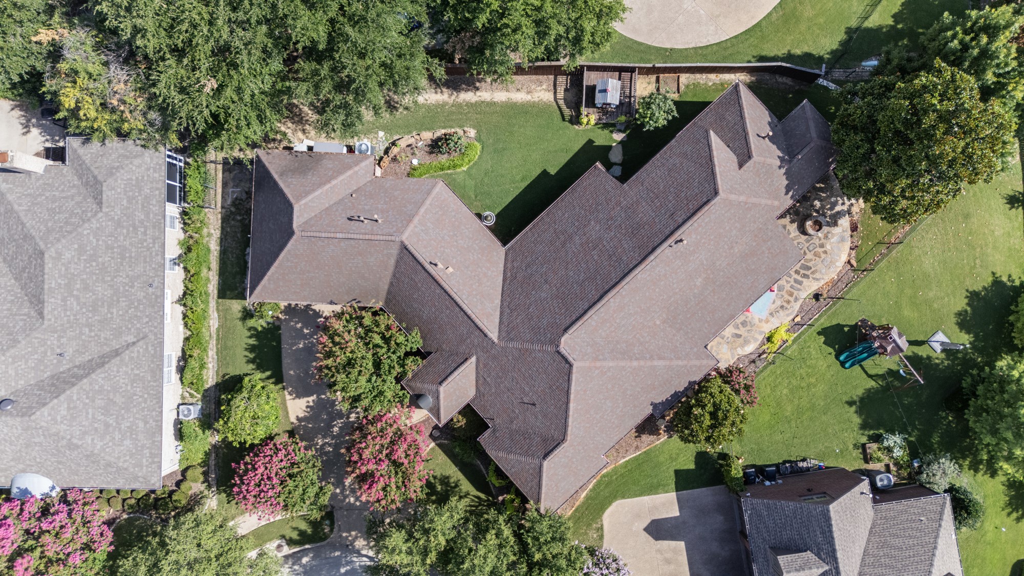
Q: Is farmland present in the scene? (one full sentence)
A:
No, the picture contains no farmland.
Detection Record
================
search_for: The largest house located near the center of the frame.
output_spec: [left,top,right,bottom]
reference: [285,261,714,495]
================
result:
[246,79,839,516]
